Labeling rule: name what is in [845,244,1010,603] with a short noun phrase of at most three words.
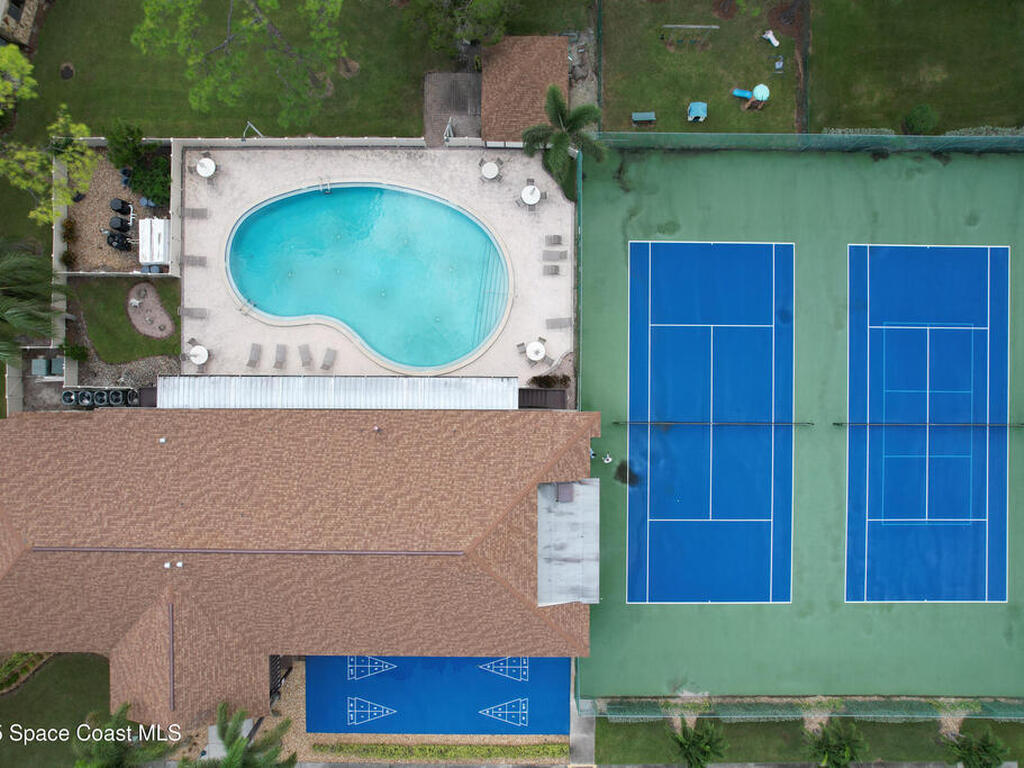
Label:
tennis court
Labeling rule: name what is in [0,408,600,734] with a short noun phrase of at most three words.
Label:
building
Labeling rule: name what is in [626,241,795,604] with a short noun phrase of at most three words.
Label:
tennis court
